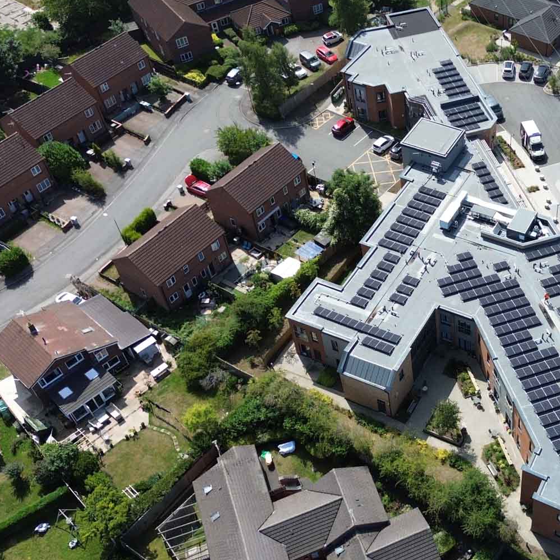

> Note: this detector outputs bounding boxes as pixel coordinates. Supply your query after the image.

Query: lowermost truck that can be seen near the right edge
[523,119,547,158]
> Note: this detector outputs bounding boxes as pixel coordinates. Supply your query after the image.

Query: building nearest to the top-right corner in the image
[469,0,560,56]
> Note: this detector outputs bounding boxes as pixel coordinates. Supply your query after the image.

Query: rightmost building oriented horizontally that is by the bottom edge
[192,437,441,560]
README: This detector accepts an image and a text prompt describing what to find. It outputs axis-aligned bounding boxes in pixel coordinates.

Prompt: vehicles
[331,117,357,135]
[48,291,91,310]
[486,95,504,118]
[299,49,321,68]
[523,119,547,158]
[316,47,338,62]
[370,135,397,154]
[535,64,550,82]
[385,140,402,159]
[180,171,212,194]
[296,64,307,77]
[222,68,241,83]
[503,59,515,79]
[320,30,346,46]
[520,59,533,79]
